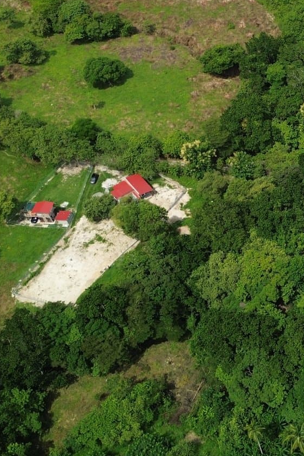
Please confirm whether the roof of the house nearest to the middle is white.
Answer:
No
